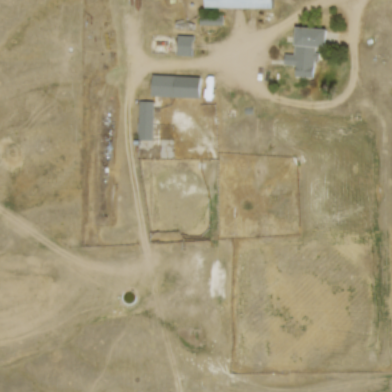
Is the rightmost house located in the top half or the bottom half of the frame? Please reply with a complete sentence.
The rightmost house is in the top half of the image.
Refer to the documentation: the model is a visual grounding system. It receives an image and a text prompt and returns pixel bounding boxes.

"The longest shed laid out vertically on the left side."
[139,100,156,140]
